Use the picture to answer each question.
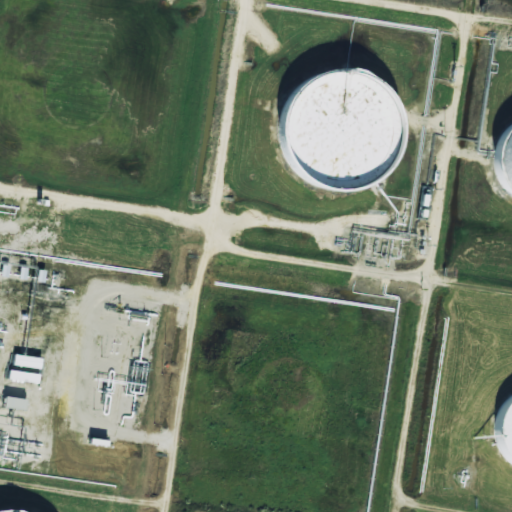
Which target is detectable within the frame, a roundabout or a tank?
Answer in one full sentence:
Of the two, only a tank appears.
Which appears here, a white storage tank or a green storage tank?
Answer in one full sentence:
I can see a white storage tank in this picture.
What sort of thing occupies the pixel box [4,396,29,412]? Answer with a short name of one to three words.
shed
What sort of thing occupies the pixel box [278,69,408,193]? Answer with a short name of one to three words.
storage tank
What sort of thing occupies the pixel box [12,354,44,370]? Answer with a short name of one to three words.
shed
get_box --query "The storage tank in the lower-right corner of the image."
[474,394,512,468]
